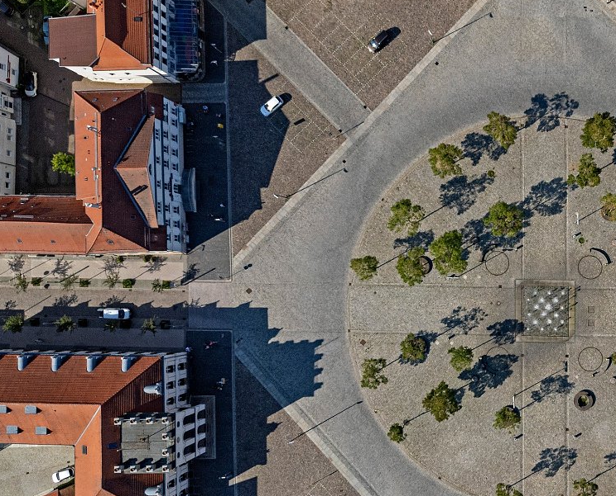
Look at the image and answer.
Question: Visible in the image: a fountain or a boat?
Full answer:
This aerial view contains a fountain.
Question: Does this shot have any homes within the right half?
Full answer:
No, looking within the right half, there is no home.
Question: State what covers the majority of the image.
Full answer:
The bulk of the photo consists of paved ground.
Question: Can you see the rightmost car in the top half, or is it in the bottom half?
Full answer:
The top half of the photo is where the rightmost car is.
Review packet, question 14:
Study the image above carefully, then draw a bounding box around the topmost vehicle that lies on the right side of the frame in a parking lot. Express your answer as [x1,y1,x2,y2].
[365,28,392,53]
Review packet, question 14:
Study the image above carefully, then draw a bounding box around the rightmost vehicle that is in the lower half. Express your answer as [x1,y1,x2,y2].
[96,306,135,322]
